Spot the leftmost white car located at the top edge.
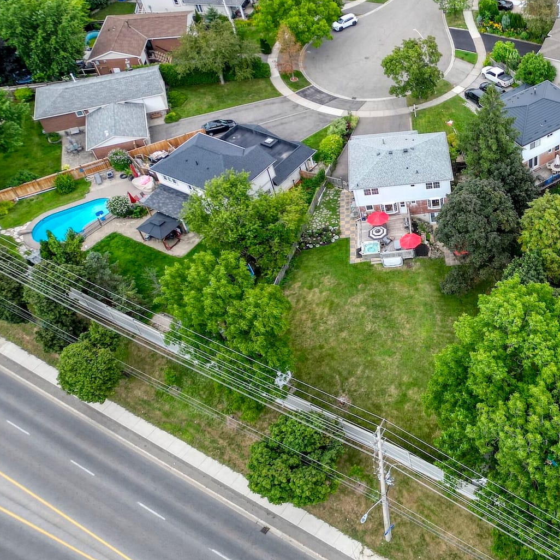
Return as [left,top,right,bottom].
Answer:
[333,12,358,31]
